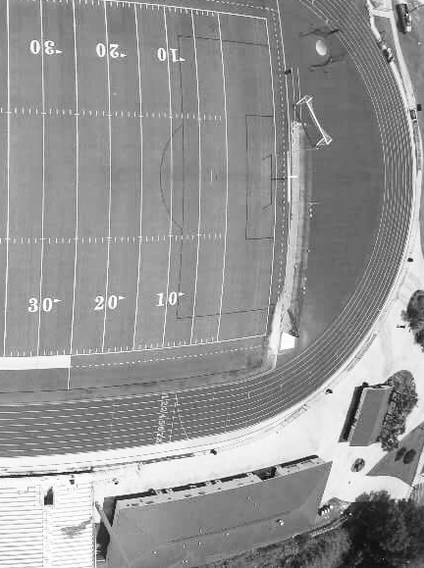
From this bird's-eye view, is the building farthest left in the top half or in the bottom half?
bottom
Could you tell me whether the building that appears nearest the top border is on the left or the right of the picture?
right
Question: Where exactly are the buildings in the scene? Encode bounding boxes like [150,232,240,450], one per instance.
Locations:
[102,454,333,568]
[332,383,393,448]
